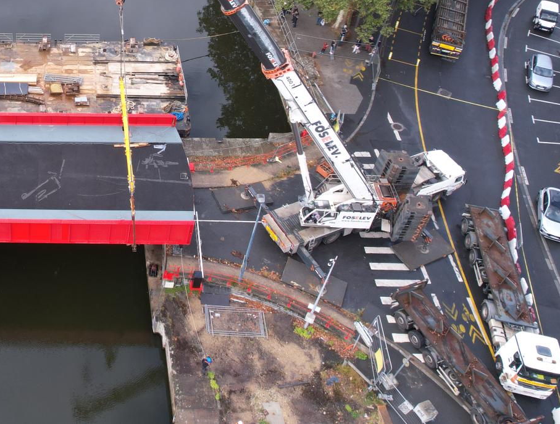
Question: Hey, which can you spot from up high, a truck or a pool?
truck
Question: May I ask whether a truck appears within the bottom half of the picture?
Yes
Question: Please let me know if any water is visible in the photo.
Yes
